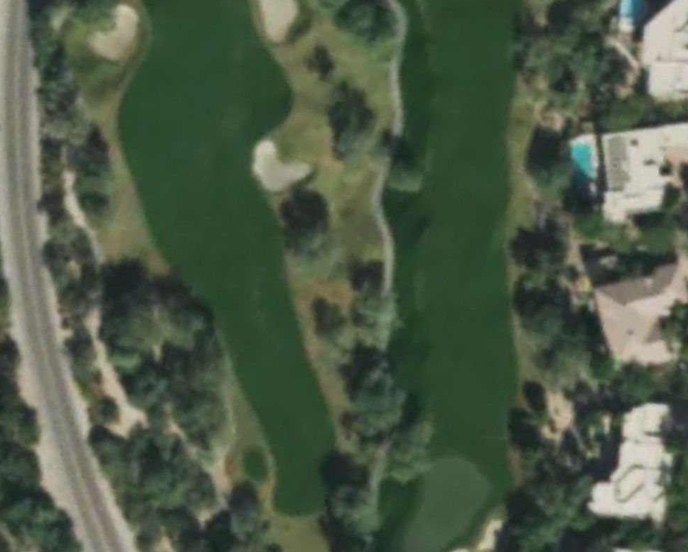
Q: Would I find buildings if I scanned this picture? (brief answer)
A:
Yes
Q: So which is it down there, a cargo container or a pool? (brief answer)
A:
pool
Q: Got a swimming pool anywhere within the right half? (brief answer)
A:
Yes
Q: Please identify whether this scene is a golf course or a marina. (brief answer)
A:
golf course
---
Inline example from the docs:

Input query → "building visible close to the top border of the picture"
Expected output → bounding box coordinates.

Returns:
[642,0,688,100]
